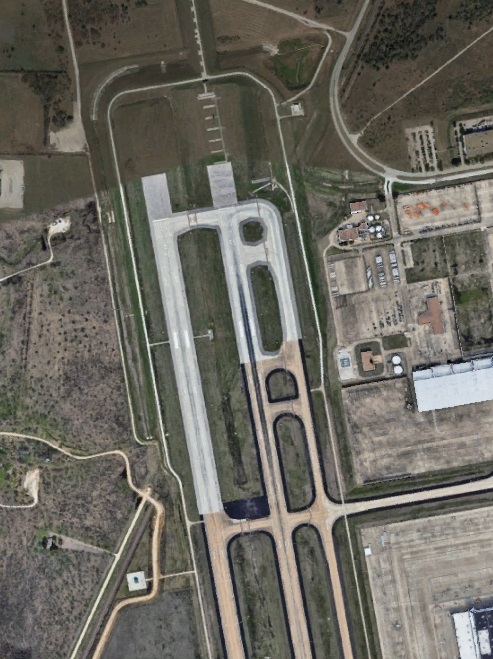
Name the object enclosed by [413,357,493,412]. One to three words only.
hangar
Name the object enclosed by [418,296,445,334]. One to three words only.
building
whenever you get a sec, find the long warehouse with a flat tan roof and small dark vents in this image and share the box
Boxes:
[463,129,493,158]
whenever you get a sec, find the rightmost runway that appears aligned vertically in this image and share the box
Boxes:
[218,208,312,659]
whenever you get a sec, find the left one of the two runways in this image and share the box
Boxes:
[152,218,244,659]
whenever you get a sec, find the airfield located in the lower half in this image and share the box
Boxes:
[142,161,493,659]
